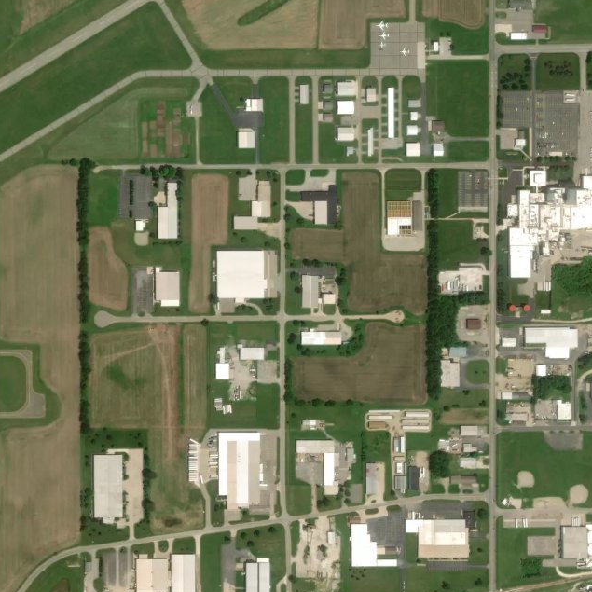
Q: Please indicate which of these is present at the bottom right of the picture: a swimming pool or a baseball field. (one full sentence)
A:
Looking at the bottom right of the picture, you will find a baseball field.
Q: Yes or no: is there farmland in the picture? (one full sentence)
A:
Yes, there's farmland in this view.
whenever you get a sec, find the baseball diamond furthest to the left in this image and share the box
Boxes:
[517,460,545,488]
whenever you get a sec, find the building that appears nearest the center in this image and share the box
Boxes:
[302,275,336,308]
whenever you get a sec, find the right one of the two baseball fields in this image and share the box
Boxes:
[563,464,592,502]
